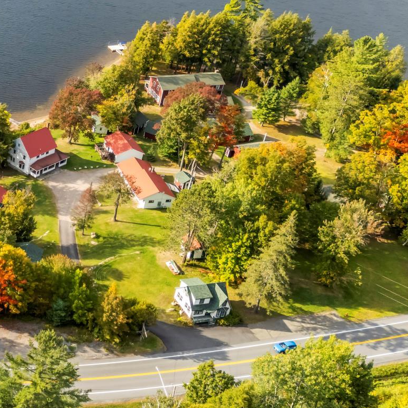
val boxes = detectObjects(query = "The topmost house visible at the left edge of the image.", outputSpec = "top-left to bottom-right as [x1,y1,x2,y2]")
[9,122,68,179]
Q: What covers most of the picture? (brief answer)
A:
trees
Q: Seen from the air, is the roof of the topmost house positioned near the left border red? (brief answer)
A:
Yes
